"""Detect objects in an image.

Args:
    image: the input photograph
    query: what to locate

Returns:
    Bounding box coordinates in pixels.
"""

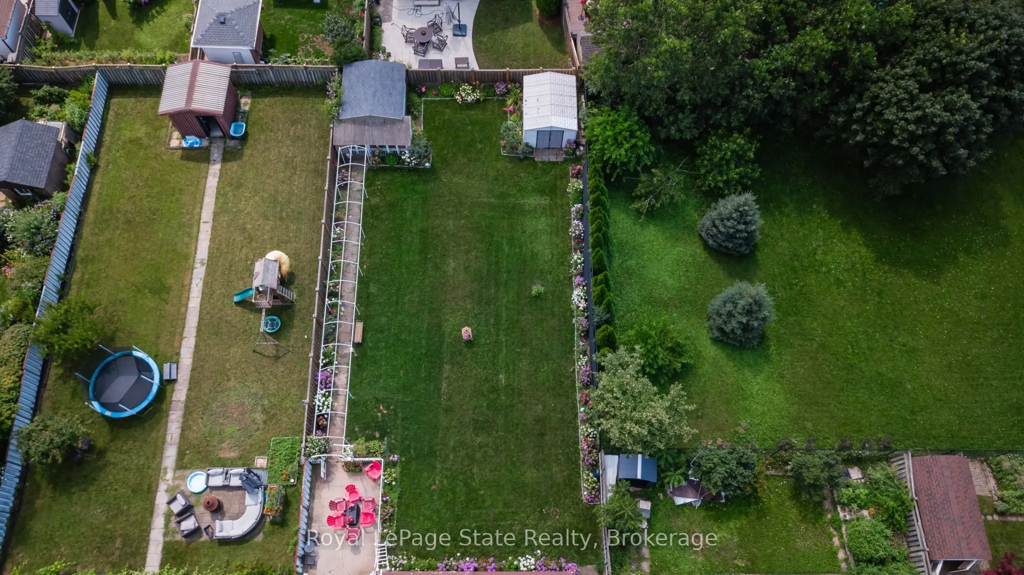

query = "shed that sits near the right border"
[908,455,992,575]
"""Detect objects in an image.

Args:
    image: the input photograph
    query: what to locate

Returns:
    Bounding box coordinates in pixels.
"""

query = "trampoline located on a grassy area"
[73,346,166,420]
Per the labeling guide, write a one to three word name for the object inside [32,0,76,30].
shed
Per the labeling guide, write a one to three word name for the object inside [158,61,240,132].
shed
